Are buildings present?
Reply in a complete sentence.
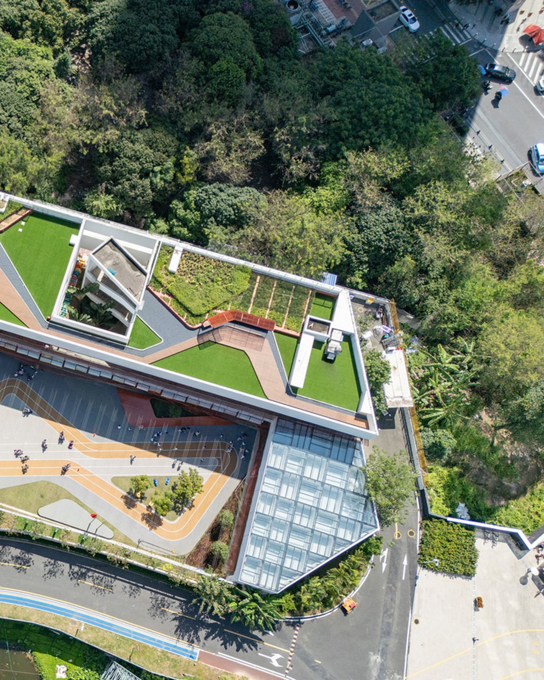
Yes, a building appears in the view.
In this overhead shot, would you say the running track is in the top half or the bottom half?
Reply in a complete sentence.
Seen from above, the running track lies in the bottom half of the view.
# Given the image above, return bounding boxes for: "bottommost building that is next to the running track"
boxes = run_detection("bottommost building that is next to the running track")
[213,418,379,594]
